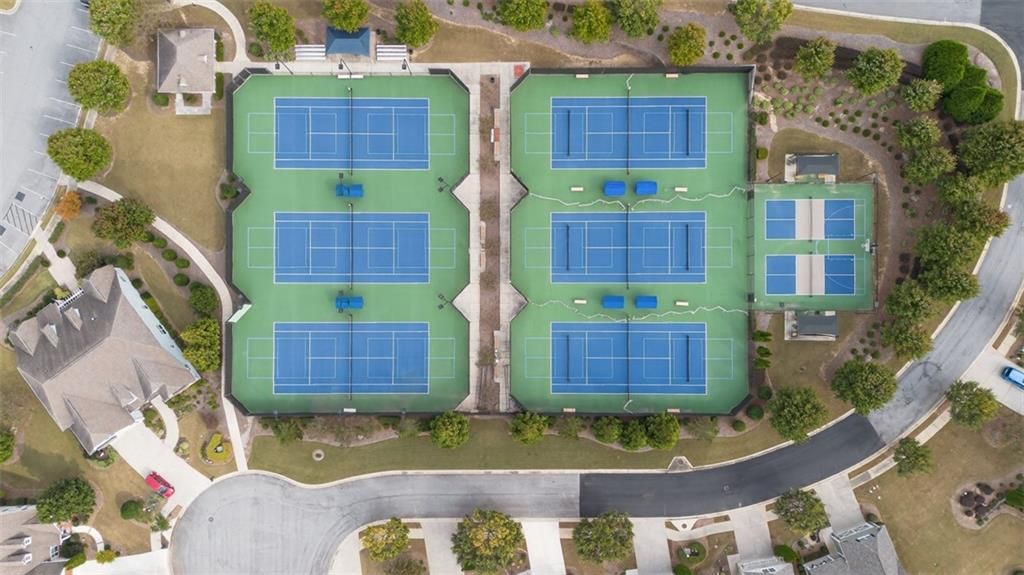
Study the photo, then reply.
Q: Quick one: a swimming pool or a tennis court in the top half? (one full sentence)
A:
The one visible in the top half is a tennis court.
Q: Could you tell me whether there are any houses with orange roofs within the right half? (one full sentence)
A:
No, no house with an orange roof is visible within the right half.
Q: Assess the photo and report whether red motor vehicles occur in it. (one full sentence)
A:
Yes, the image includes a red motor vehicle.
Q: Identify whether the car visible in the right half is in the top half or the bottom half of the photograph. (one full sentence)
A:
It is in the bottom half that the car visible in the right half appears.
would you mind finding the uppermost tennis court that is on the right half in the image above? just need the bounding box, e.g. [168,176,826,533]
[511,73,748,191]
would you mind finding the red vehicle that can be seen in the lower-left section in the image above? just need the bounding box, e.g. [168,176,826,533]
[143,471,176,498]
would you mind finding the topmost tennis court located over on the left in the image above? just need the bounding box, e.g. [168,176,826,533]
[233,75,468,191]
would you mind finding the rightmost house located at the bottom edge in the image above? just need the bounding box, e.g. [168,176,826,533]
[805,518,908,575]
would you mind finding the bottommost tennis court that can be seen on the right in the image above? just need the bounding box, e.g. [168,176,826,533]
[511,301,748,412]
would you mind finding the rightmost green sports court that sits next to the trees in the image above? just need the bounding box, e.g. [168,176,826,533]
[754,184,872,308]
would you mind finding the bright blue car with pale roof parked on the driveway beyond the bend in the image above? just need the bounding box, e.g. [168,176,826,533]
[997,365,1024,387]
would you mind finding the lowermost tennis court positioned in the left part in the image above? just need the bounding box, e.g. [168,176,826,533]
[231,301,468,412]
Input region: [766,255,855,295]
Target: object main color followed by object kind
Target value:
blue sports court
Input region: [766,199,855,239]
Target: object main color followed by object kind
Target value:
blue sports court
